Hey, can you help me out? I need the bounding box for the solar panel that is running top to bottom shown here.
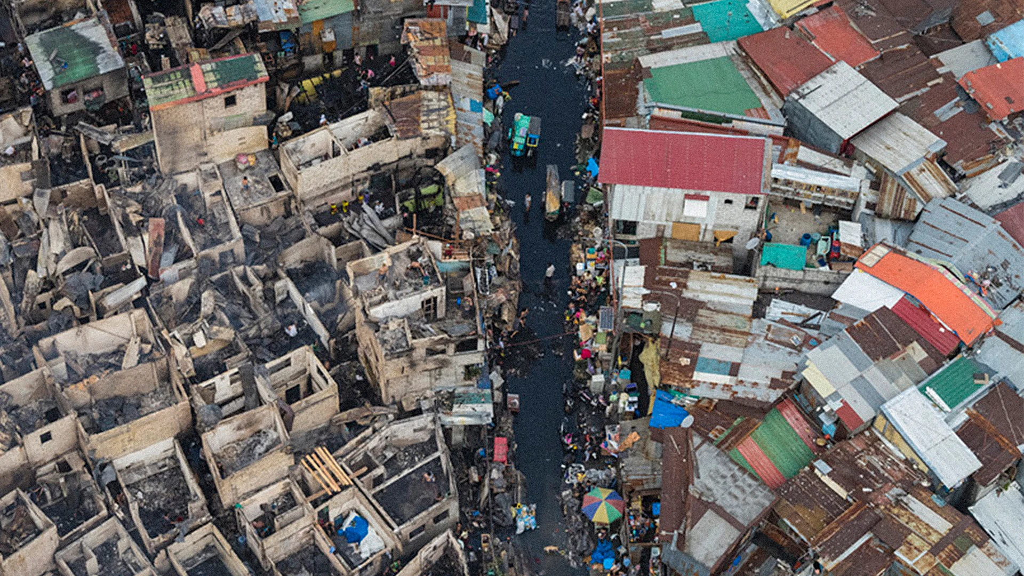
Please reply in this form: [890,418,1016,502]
[597,306,615,346]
